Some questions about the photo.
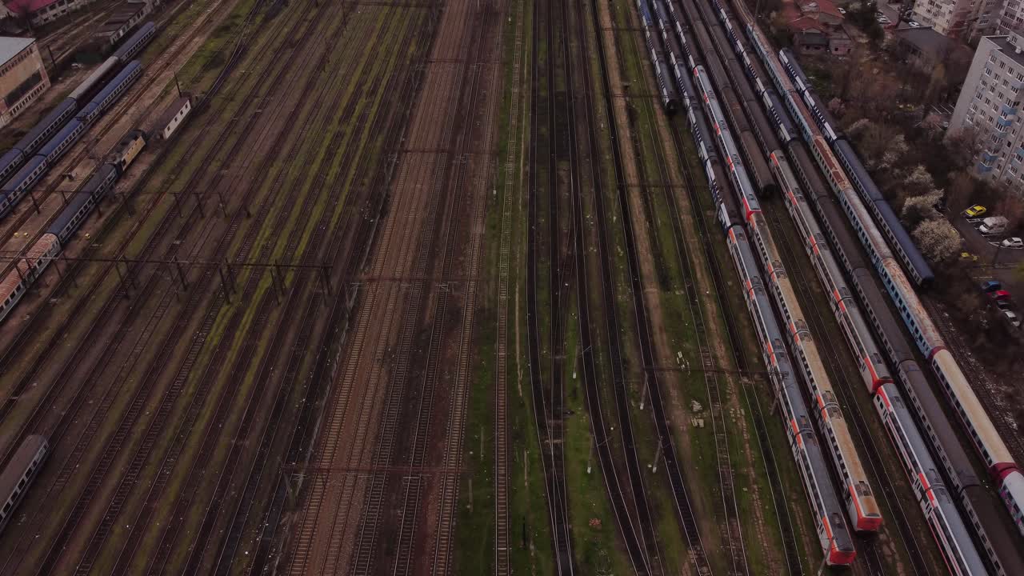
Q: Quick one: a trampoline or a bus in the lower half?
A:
bus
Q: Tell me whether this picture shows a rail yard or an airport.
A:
rail yard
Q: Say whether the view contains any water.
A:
No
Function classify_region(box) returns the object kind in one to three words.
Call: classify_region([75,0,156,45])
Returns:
shed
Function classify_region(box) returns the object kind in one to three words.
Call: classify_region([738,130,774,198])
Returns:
rail car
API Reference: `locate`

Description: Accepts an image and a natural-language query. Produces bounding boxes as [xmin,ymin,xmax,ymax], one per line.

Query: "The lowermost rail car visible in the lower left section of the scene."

[0,434,58,549]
